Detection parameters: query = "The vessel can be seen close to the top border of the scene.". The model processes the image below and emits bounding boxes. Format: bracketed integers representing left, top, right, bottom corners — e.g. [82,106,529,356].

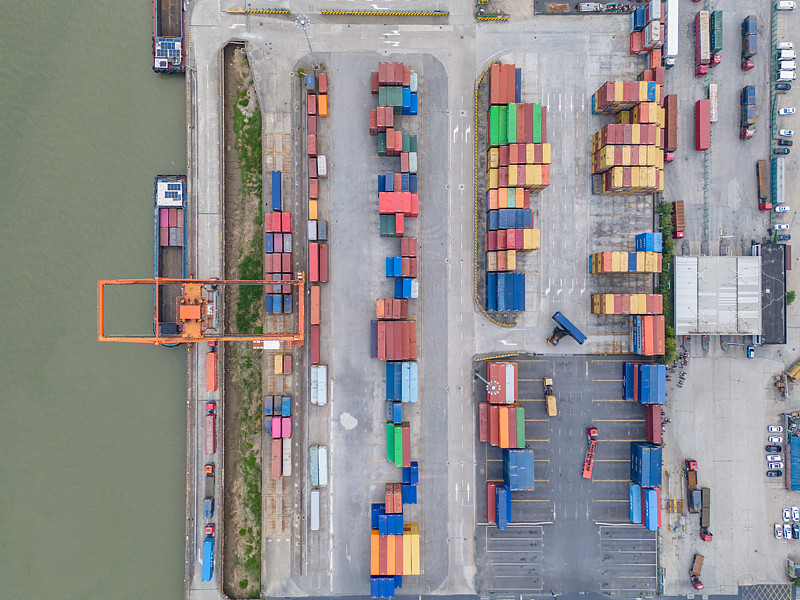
[151,0,186,74]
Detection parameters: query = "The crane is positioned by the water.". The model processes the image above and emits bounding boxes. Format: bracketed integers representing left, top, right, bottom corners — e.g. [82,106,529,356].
[97,262,305,352]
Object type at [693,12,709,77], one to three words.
vehicle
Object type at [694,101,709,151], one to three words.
trailer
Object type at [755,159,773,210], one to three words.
vehicle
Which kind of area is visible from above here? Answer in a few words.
port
